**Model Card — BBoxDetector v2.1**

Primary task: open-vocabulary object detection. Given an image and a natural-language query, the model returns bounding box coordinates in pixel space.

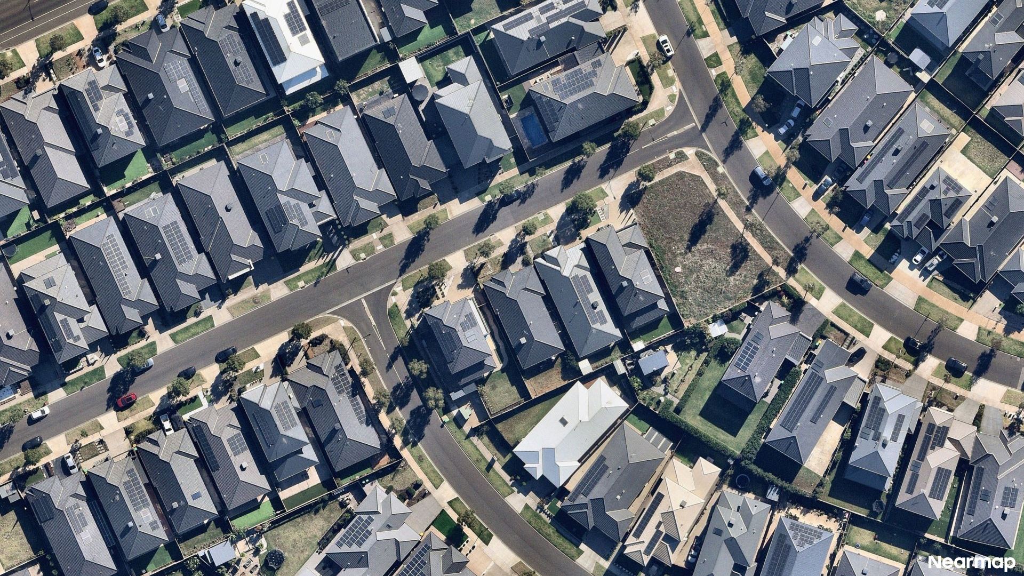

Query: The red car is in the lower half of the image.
[113,391,140,410]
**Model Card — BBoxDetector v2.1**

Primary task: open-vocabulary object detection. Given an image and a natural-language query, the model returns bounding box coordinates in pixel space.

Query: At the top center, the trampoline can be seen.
[412,84,428,100]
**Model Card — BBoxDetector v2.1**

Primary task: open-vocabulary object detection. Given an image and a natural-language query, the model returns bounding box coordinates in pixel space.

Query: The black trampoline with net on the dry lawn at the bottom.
[266,550,284,568]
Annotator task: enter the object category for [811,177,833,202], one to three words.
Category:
car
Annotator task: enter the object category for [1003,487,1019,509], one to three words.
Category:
solar array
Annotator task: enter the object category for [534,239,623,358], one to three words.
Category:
house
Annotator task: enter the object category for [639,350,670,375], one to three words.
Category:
shed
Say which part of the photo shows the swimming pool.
top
